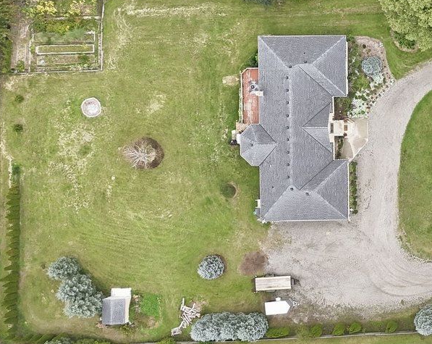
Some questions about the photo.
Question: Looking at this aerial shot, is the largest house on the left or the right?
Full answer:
The largest house sits on the right side.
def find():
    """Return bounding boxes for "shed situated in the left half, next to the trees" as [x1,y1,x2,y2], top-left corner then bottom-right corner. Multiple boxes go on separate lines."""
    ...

[104,286,138,326]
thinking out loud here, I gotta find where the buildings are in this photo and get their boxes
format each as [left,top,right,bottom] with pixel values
[104,286,138,326]
[240,35,352,222]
